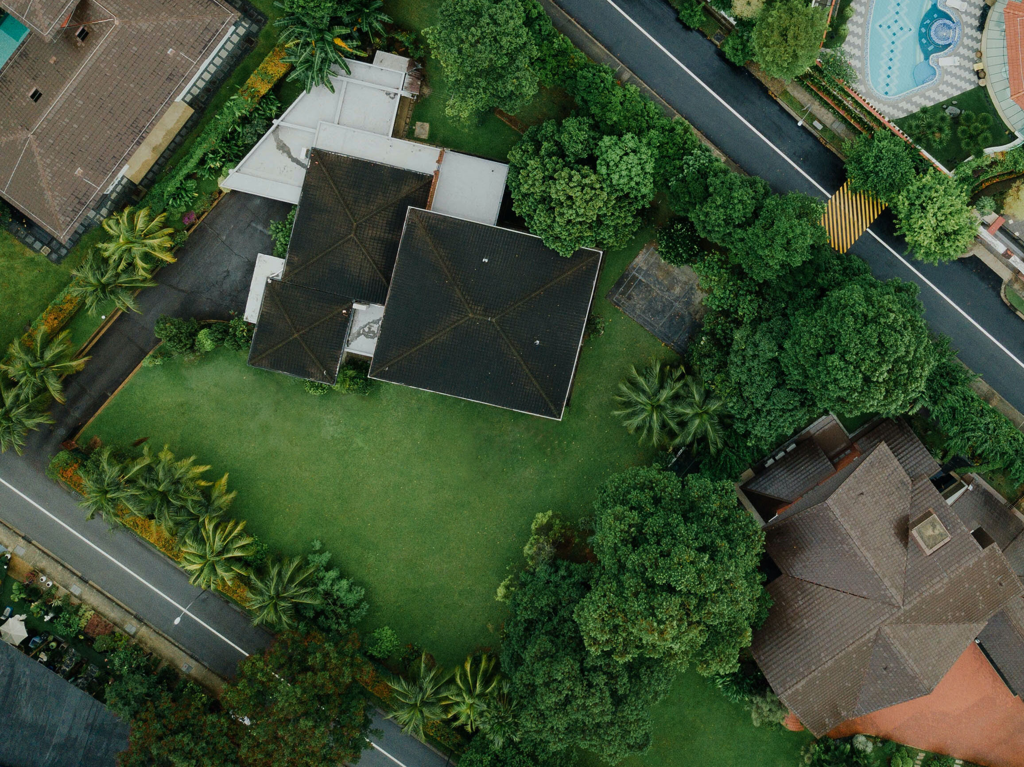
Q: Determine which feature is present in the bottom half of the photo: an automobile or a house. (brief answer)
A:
house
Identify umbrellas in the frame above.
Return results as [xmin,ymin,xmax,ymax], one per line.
[2,614,32,644]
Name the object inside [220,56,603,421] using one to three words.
house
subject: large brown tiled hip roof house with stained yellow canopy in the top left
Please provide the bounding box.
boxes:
[0,0,241,243]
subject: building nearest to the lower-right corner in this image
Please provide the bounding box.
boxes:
[737,413,1024,739]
